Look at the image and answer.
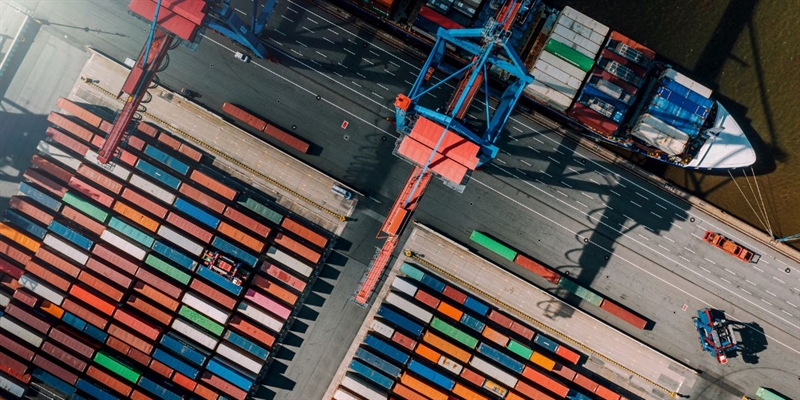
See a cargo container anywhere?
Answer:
Yes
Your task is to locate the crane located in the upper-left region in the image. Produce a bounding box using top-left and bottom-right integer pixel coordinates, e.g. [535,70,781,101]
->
[88,0,313,175]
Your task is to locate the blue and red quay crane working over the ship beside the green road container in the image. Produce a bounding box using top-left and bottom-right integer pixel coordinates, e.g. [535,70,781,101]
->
[346,0,555,314]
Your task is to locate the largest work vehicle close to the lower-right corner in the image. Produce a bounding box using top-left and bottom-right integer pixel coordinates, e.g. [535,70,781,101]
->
[690,304,746,363]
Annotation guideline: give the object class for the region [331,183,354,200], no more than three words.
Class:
vehicle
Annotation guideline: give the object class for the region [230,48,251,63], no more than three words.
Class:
vehicle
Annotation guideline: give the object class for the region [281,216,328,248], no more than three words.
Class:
shipping container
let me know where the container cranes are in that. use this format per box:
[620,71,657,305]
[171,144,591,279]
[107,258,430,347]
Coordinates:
[88,0,313,175]
[346,0,555,314]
